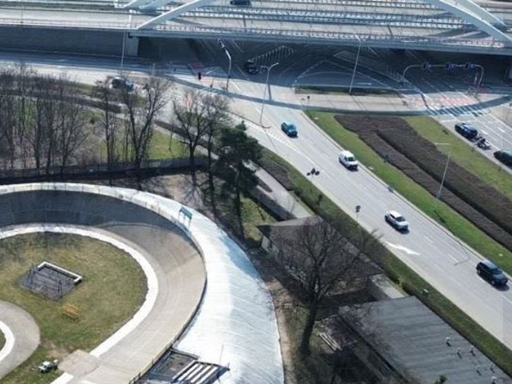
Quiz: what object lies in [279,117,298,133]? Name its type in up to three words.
car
